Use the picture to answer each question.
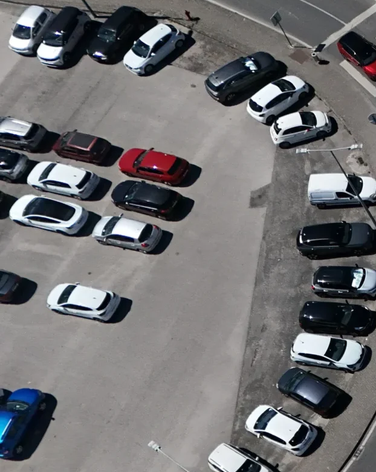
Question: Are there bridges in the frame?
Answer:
No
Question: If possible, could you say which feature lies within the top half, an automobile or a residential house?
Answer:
automobile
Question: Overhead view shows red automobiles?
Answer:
Yes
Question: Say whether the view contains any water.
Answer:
No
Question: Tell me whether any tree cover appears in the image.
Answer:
No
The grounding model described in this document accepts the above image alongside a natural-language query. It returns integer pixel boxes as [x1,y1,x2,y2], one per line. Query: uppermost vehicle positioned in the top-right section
[333,31,376,80]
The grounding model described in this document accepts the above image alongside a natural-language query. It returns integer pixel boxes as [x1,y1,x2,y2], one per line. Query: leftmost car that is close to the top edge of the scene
[11,7,60,54]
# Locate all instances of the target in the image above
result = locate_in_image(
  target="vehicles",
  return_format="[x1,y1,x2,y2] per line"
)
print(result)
[11,7,60,54]
[208,58,282,106]
[288,336,368,378]
[50,131,114,171]
[10,198,91,241]
[276,368,344,423]
[28,163,101,205]
[272,113,333,152]
[296,221,376,260]
[92,10,155,65]
[0,115,52,158]
[199,436,271,472]
[297,301,375,340]
[250,80,316,127]
[333,31,376,80]
[246,405,319,458]
[92,217,163,258]
[110,182,183,224]
[310,265,376,302]
[45,284,123,327]
[118,148,193,190]
[40,14,94,67]
[0,271,27,307]
[128,26,190,77]
[0,392,43,466]
[0,149,34,186]
[305,174,376,212]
